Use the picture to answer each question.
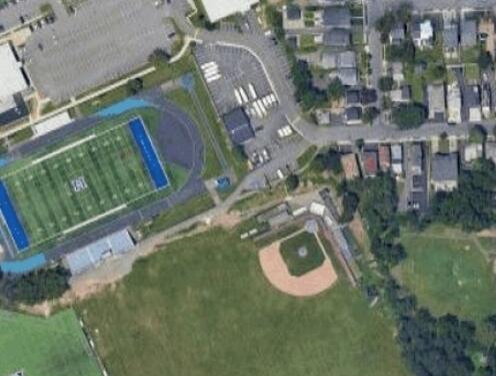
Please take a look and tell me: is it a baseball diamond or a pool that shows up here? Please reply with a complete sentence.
Looking from above, you can make out a baseball diamond.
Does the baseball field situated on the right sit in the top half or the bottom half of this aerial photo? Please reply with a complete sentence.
Seen from above, the baseball field situated on the right lies in the bottom half of the view.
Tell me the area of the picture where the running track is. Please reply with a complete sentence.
Look in the left portion of the view to spot the running track.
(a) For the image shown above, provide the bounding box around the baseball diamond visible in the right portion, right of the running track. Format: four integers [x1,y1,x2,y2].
[259,219,337,296]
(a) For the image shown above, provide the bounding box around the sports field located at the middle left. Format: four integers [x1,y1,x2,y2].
[0,117,171,254]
